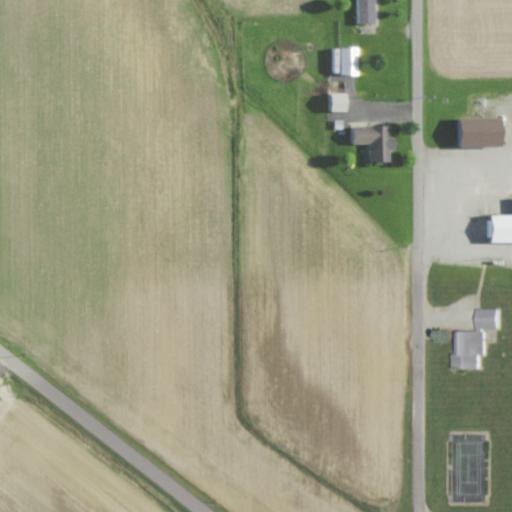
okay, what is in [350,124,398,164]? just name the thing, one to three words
house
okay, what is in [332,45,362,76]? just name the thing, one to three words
barn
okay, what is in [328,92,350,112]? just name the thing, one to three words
building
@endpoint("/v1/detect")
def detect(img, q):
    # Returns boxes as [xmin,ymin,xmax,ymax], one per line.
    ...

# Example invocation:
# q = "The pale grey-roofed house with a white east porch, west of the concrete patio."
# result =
[450,332,488,372]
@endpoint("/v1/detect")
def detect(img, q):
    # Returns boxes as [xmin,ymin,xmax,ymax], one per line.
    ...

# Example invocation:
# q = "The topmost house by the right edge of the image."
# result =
[458,118,509,149]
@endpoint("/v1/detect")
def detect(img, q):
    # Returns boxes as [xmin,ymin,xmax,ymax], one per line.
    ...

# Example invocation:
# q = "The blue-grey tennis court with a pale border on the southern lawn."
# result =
[447,431,491,506]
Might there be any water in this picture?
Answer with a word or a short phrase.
No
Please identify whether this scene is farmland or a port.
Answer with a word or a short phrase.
farmland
